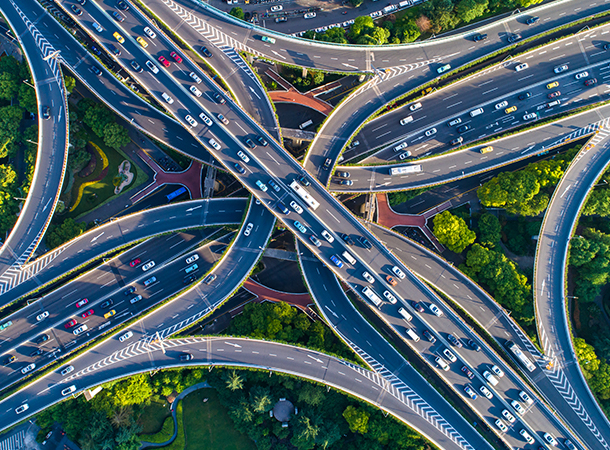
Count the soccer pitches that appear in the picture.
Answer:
0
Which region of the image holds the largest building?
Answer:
bottom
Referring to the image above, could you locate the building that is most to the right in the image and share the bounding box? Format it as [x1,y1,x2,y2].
[272,396,295,420]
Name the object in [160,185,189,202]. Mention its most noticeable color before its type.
blue vehicle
